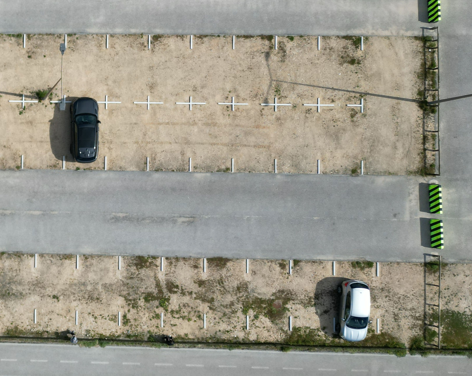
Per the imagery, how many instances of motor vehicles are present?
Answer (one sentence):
In total, 2 motor vehicles can be seen.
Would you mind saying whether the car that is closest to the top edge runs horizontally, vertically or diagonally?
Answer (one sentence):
What the image shows is the car that is closest to the top edge lying vertically.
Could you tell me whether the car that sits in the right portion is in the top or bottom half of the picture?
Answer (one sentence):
The car that sits in the right portion is in the bottom half of the image.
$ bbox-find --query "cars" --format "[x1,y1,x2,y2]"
[69,98,102,164]
[336,278,374,341]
